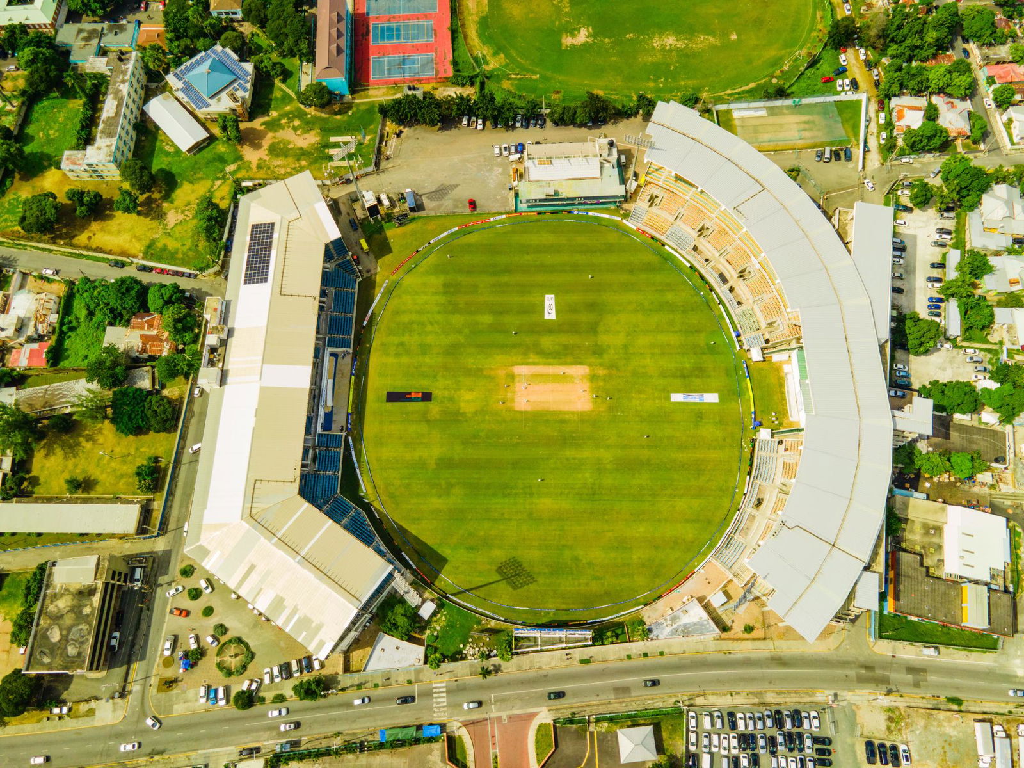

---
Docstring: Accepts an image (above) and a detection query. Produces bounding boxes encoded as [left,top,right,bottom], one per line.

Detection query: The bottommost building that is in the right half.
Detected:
[618,727,657,763]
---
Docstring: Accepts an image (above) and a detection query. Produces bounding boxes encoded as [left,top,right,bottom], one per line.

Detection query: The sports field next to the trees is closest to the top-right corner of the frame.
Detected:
[474,0,830,95]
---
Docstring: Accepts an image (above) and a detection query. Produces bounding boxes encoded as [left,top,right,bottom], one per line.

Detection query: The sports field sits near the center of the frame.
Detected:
[359,219,744,610]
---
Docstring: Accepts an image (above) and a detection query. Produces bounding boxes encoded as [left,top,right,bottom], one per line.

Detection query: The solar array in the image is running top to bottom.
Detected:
[245,220,274,286]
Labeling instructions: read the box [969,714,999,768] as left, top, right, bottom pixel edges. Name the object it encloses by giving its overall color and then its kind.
white truck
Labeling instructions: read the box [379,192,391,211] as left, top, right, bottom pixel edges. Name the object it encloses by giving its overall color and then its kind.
white vehicle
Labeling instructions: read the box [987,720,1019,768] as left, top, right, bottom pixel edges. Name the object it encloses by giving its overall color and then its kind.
white truck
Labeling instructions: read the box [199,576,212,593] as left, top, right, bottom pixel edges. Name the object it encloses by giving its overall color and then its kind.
white vehicle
